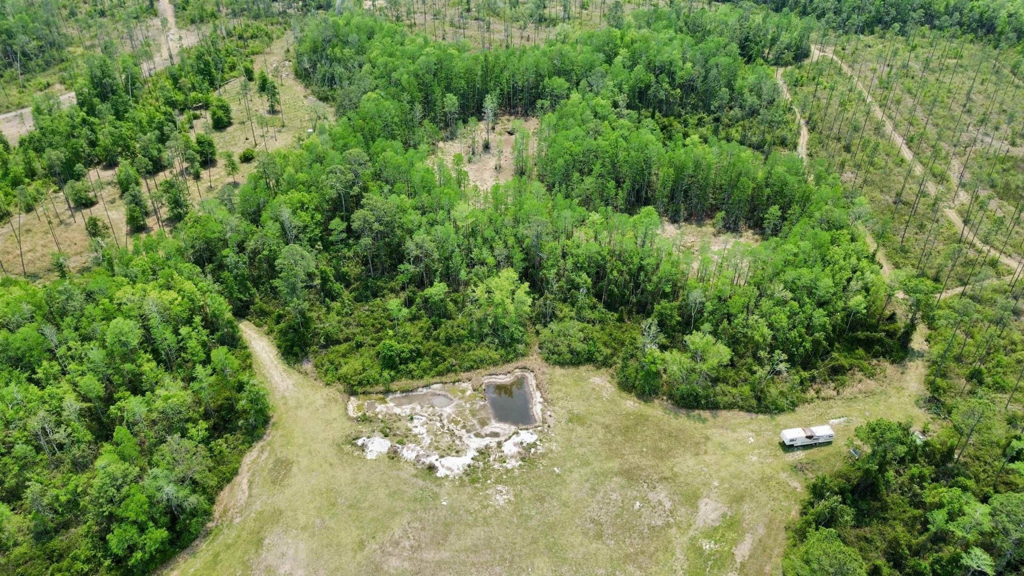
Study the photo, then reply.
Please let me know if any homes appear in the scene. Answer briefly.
No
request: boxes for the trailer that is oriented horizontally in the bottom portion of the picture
[781,423,836,446]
